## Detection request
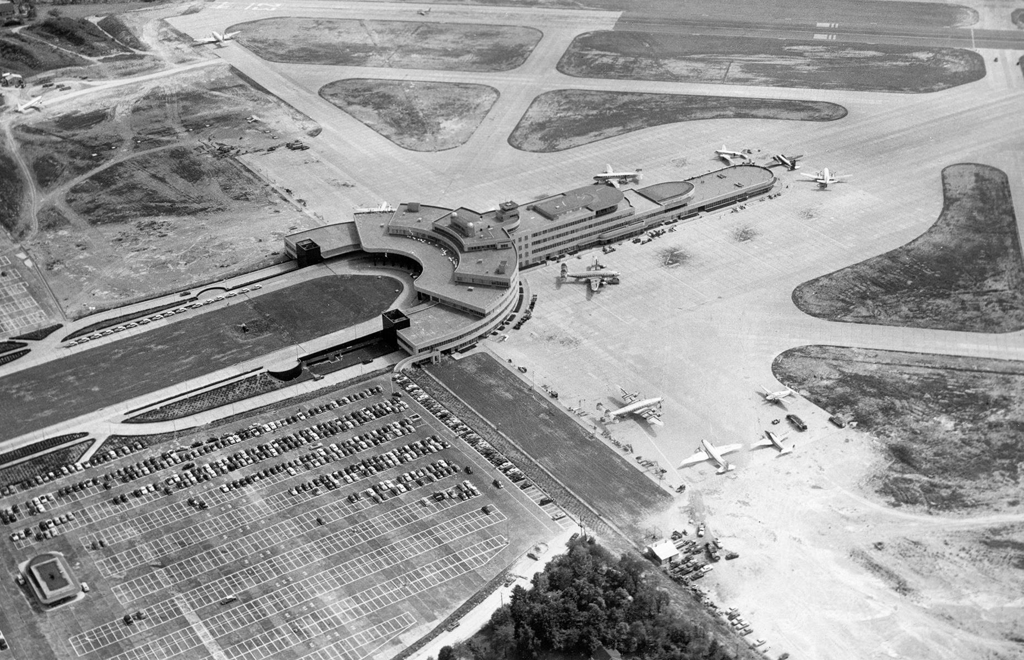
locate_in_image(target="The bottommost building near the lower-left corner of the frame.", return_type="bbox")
[18,550,86,617]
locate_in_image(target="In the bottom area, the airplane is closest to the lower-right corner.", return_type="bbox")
[746,429,798,456]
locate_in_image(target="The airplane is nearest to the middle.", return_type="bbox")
[563,255,623,289]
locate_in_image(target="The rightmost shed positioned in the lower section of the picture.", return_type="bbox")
[647,539,680,567]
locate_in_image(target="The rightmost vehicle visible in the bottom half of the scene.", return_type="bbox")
[830,413,846,428]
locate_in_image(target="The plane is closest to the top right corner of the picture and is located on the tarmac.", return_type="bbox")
[798,165,850,181]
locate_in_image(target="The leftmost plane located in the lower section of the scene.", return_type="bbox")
[604,382,674,425]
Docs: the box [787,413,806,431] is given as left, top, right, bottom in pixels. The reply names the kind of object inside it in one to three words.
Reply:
vehicle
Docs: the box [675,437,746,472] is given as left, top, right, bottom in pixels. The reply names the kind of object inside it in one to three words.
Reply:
airplane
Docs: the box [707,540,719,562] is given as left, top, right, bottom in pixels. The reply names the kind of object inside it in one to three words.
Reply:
vehicle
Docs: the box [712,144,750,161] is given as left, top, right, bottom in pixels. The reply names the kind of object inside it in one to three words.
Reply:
airplane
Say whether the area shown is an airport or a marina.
airport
